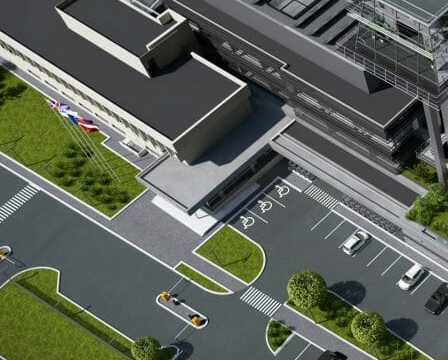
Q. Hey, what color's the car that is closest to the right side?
black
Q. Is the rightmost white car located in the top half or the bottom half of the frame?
bottom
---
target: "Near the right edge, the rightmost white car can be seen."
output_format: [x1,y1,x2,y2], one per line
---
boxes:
[396,263,427,292]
